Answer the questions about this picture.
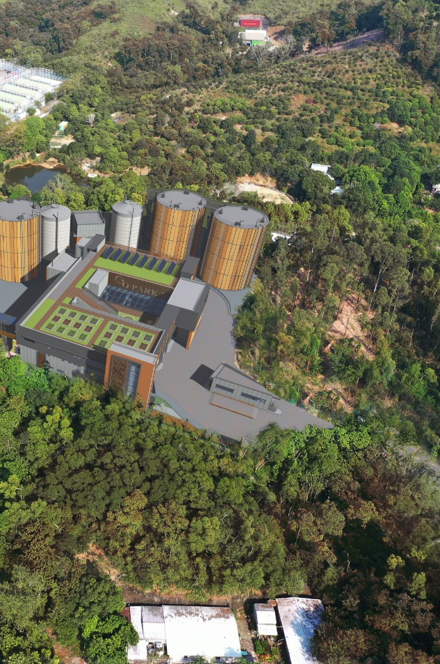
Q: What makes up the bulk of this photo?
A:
trees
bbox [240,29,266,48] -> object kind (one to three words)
building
